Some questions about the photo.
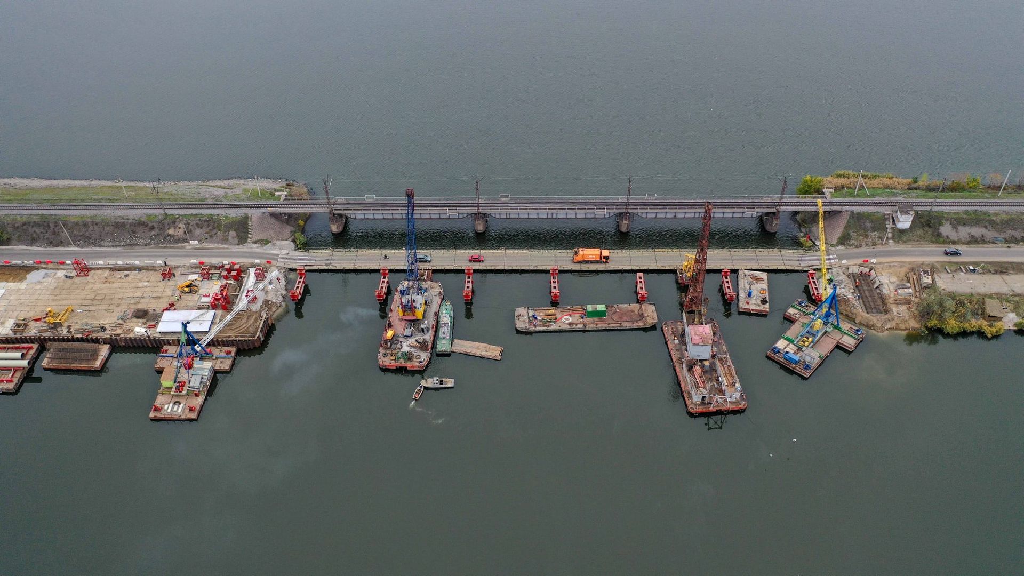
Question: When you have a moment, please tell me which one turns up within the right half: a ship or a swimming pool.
ship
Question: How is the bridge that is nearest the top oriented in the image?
horizontally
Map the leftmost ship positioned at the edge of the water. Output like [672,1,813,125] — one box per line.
[0,343,41,393]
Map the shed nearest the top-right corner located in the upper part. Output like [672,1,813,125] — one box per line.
[893,202,922,226]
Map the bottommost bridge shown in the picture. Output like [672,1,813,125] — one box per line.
[277,246,840,274]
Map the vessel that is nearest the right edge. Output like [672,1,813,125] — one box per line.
[766,198,866,378]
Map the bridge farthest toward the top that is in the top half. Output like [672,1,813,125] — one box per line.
[272,187,840,235]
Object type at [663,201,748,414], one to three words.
ship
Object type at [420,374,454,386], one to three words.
boat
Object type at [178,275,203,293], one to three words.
work vehicle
